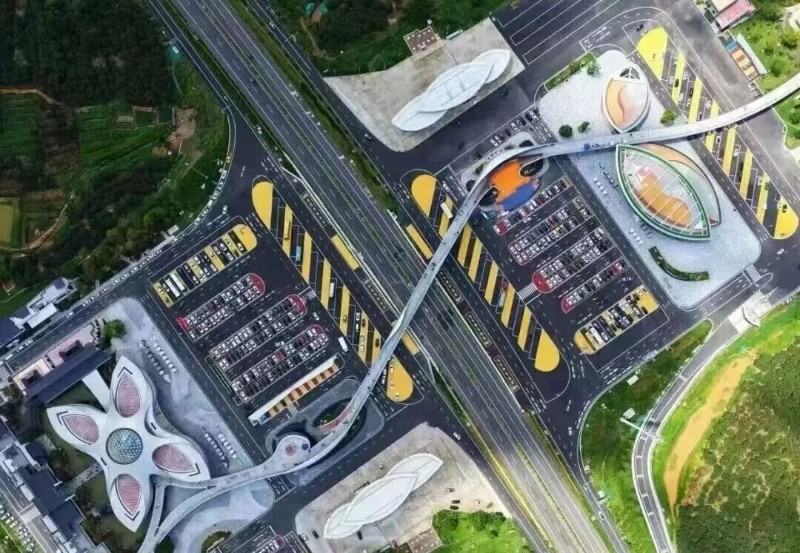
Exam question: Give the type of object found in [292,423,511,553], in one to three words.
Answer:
gas station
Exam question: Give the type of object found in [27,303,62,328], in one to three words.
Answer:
house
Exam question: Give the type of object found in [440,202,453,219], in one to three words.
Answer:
vehicle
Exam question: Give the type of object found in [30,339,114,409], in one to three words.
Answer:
building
